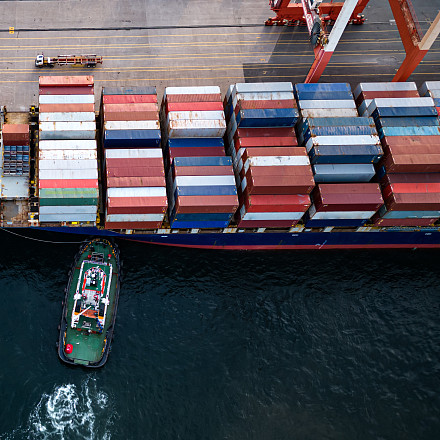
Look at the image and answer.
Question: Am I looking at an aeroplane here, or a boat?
boat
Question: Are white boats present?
No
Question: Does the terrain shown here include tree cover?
No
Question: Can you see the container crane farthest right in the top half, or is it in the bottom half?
top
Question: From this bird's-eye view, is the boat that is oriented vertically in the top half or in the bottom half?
bottom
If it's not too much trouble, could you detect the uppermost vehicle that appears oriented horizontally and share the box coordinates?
[34,52,104,69]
